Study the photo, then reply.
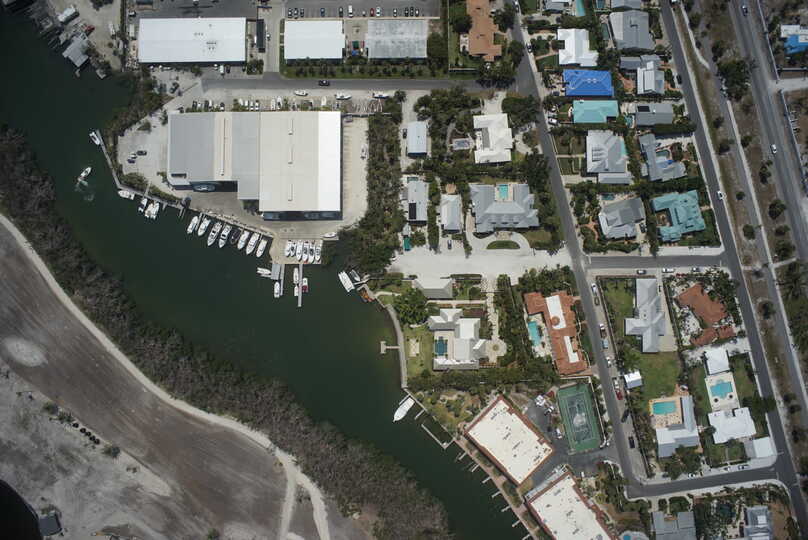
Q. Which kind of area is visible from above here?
residential area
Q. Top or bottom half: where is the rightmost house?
top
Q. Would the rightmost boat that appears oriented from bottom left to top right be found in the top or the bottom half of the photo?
bottom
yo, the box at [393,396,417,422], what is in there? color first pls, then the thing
white boat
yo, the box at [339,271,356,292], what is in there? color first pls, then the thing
white boat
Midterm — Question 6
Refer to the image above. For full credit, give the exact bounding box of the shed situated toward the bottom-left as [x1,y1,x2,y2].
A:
[39,511,62,534]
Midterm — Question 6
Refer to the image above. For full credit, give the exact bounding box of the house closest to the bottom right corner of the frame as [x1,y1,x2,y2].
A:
[743,505,772,540]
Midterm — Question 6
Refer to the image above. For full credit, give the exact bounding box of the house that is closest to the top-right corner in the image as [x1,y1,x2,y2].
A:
[780,25,808,54]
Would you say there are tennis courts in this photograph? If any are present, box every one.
[559,384,600,452]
